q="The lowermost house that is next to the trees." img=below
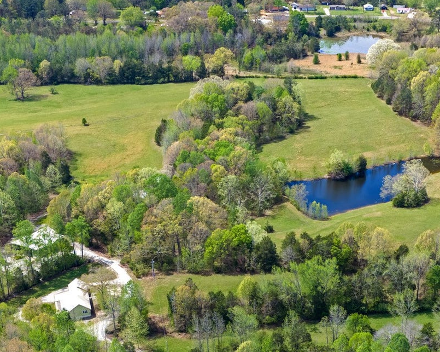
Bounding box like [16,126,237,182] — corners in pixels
[55,279,91,319]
